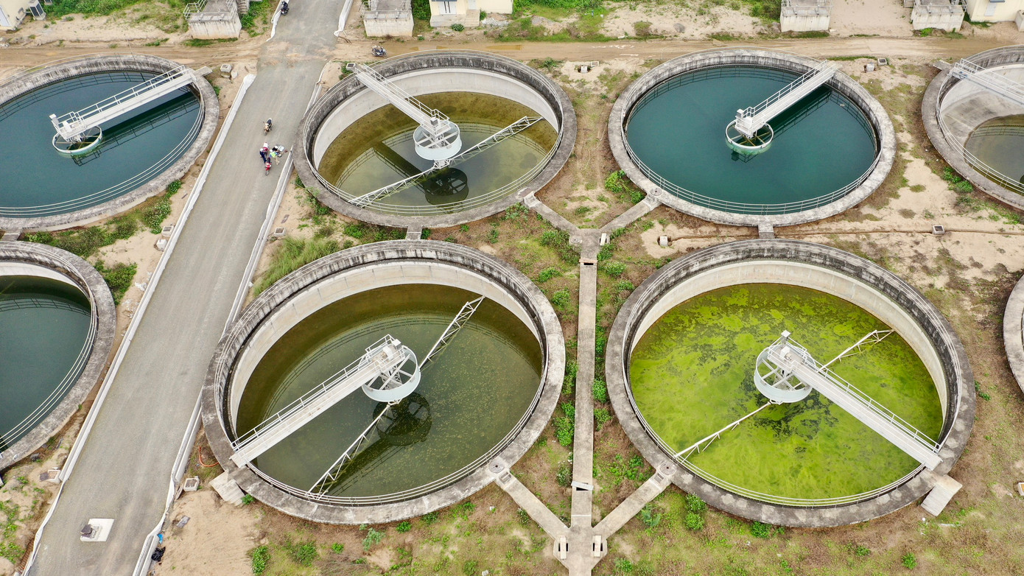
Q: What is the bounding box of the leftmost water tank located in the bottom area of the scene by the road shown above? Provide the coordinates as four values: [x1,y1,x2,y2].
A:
[0,242,117,475]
